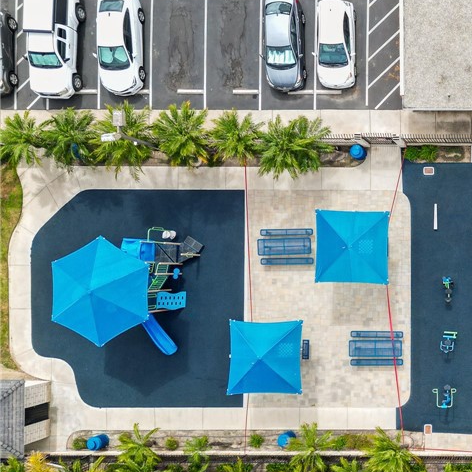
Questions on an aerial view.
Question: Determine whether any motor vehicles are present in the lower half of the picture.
No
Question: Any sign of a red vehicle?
No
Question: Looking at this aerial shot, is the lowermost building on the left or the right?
left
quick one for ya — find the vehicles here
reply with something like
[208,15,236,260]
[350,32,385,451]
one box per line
[91,0,148,97]
[259,0,309,96]
[0,4,19,98]
[311,0,359,89]
[22,0,87,98]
